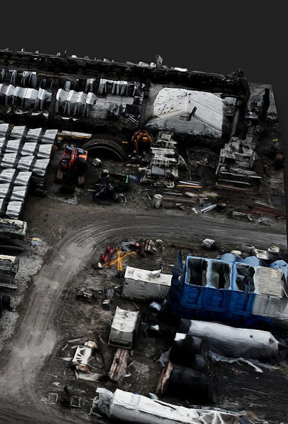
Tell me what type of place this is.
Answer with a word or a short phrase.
industrial area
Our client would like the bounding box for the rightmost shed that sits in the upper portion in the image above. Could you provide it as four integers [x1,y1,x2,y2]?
[249,89,286,124]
